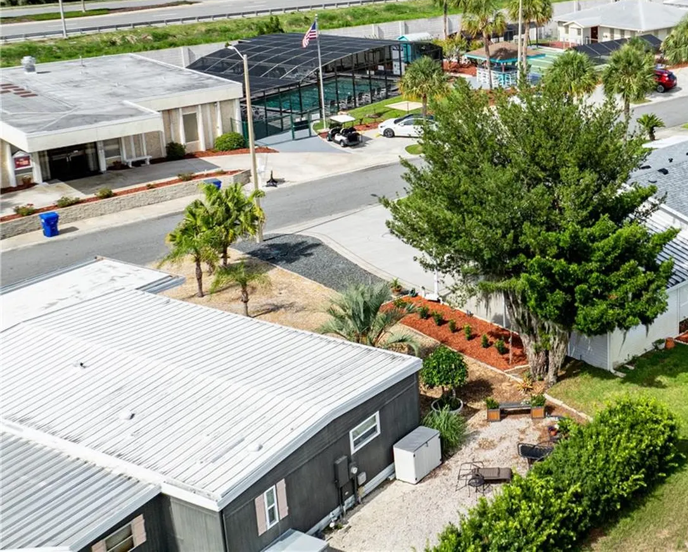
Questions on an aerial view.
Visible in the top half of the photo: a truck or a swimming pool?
swimming pool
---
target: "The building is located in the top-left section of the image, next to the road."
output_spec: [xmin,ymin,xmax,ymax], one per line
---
[0,51,246,186]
